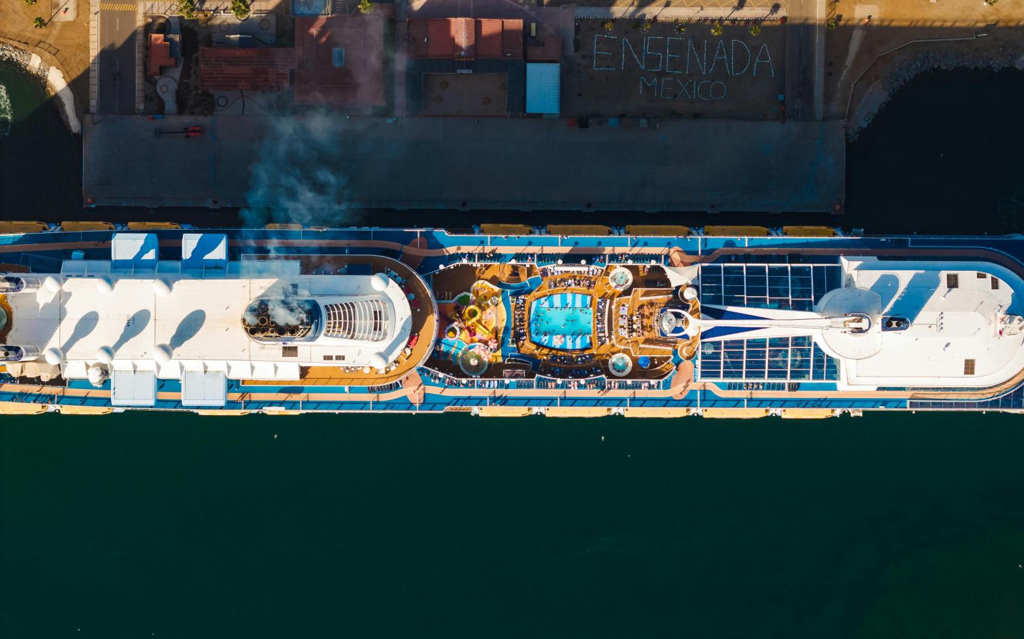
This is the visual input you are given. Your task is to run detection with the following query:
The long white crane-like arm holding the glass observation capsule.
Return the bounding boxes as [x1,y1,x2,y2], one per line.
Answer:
[657,308,871,338]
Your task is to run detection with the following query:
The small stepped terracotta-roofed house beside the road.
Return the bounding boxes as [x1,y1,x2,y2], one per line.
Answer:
[148,34,181,78]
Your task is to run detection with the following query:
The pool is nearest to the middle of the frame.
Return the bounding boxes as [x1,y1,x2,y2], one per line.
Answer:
[528,290,596,353]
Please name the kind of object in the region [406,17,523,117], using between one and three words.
building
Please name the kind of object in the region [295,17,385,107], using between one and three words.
building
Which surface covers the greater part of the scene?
water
